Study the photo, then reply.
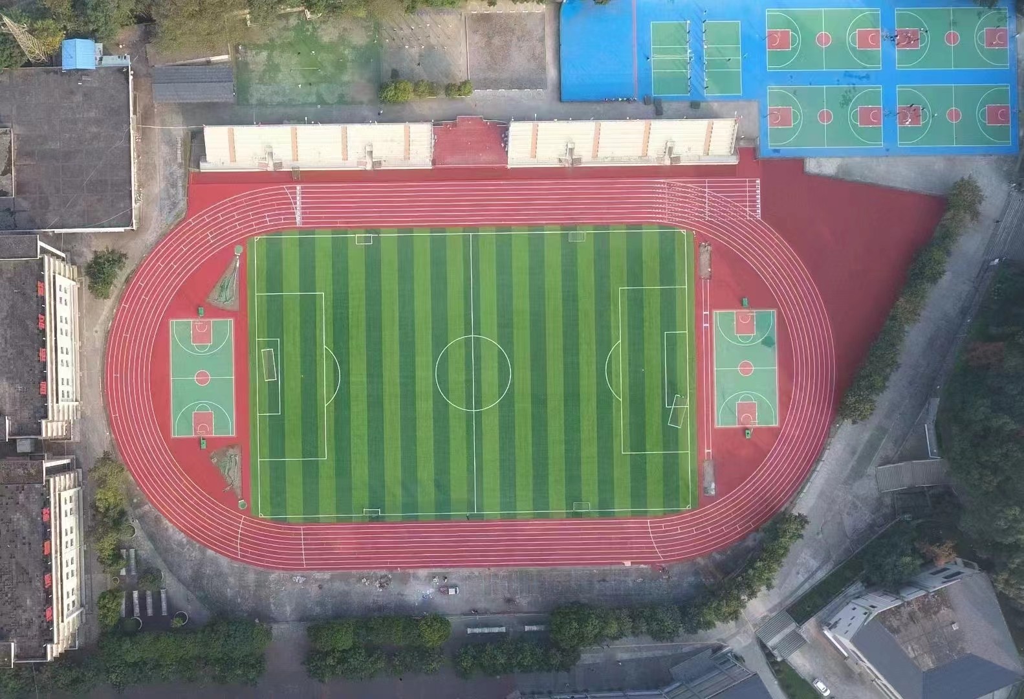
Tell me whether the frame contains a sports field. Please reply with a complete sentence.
Yes, a sports field can be made out from above.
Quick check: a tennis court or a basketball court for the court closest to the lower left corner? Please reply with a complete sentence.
It looks like the court closest to the lower left corner is a basketball court.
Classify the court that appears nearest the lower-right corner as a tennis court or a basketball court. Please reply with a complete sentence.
The court that appears nearest the lower-right corner appears to be a basketball court.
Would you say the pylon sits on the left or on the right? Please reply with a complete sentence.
The pylon is on the left side of the image.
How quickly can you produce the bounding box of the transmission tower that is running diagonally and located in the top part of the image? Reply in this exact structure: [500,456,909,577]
[0,22,51,66]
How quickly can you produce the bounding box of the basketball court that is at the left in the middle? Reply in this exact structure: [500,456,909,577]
[169,318,236,437]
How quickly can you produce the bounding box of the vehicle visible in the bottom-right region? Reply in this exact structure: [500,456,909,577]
[812,676,830,694]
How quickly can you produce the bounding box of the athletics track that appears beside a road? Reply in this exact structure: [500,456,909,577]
[105,146,951,569]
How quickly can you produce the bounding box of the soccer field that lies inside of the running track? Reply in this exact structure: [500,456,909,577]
[248,225,698,521]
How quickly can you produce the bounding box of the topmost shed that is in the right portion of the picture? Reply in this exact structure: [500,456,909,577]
[923,397,940,423]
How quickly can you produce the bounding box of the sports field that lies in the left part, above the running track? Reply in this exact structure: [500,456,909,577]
[237,13,382,105]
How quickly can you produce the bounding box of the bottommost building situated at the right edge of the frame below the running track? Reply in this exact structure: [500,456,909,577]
[823,564,1024,699]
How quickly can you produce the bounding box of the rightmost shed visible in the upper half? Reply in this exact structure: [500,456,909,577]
[151,66,236,106]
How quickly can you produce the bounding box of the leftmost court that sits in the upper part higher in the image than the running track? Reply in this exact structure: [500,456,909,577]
[651,21,690,96]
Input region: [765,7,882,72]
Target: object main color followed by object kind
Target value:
green basketball court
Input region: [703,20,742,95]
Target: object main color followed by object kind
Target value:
green sports court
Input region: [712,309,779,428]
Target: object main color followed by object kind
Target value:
green basketball court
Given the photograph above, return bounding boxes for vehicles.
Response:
[440,586,459,595]
[812,676,830,694]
